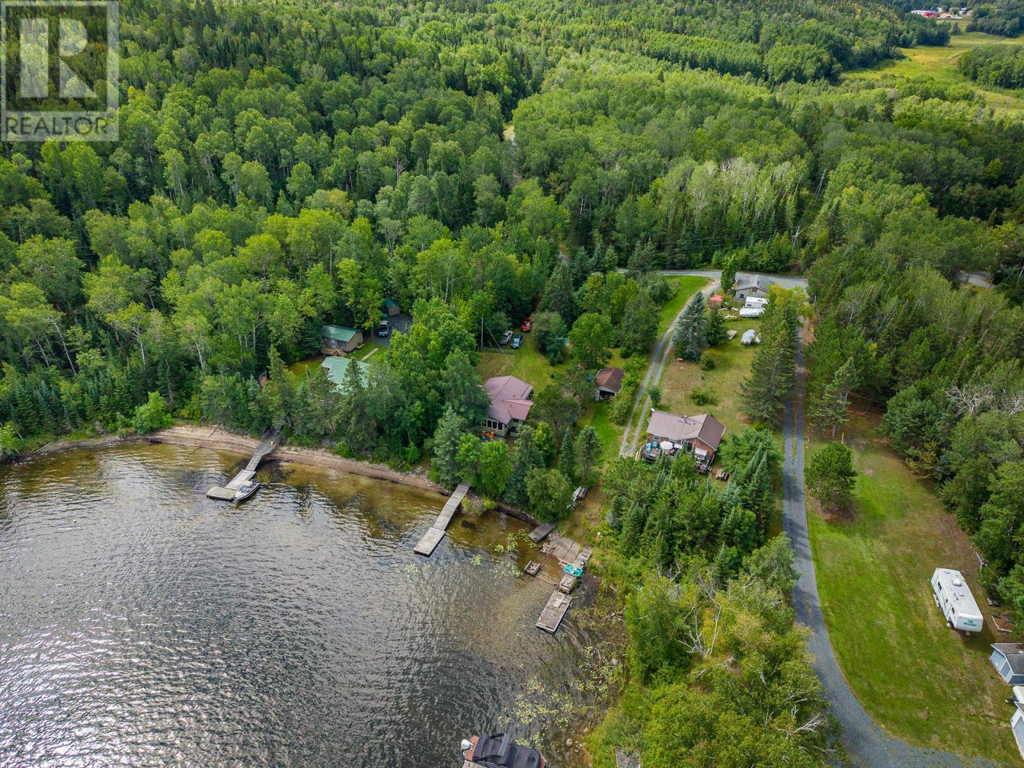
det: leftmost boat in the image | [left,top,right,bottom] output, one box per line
[234,476,268,503]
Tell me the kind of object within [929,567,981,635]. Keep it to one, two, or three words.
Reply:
trailer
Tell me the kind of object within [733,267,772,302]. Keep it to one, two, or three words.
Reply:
building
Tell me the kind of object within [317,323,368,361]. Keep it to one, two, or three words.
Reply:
building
